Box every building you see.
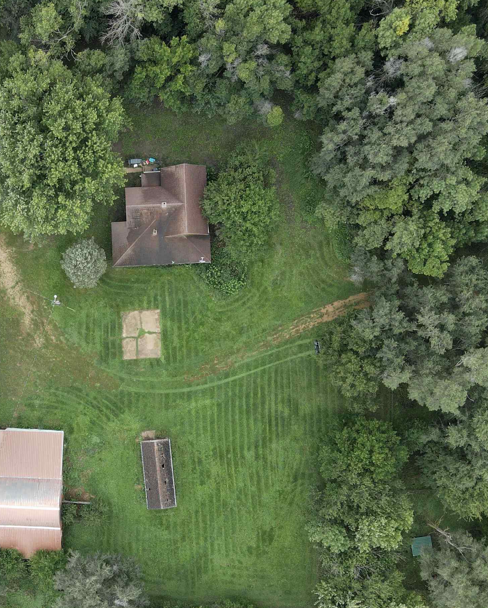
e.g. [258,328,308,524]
[0,425,66,561]
[111,164,210,268]
[140,438,176,510]
[414,538,436,560]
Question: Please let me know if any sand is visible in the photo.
No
